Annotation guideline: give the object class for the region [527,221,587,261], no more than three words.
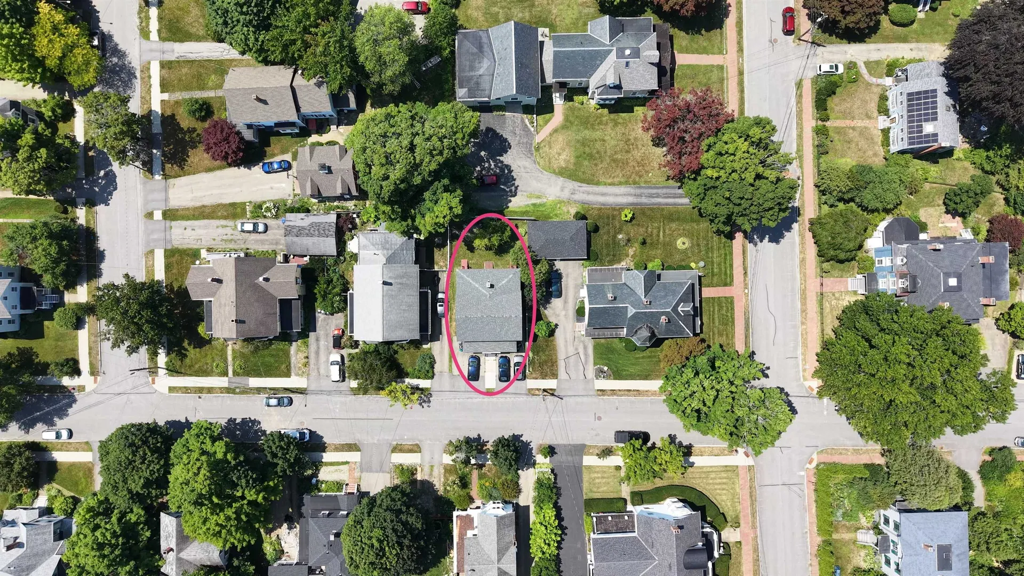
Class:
building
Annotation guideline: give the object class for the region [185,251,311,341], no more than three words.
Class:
house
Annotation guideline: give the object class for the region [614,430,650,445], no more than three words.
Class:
vehicle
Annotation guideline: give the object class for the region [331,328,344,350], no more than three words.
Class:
vehicle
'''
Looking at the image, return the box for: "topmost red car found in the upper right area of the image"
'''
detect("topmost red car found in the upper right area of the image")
[781,8,796,37]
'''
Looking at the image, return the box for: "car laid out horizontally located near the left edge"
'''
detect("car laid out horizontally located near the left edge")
[41,428,73,441]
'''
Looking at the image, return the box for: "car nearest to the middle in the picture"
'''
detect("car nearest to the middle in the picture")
[549,270,562,298]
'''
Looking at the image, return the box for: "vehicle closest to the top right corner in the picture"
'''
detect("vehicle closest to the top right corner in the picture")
[816,62,843,76]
